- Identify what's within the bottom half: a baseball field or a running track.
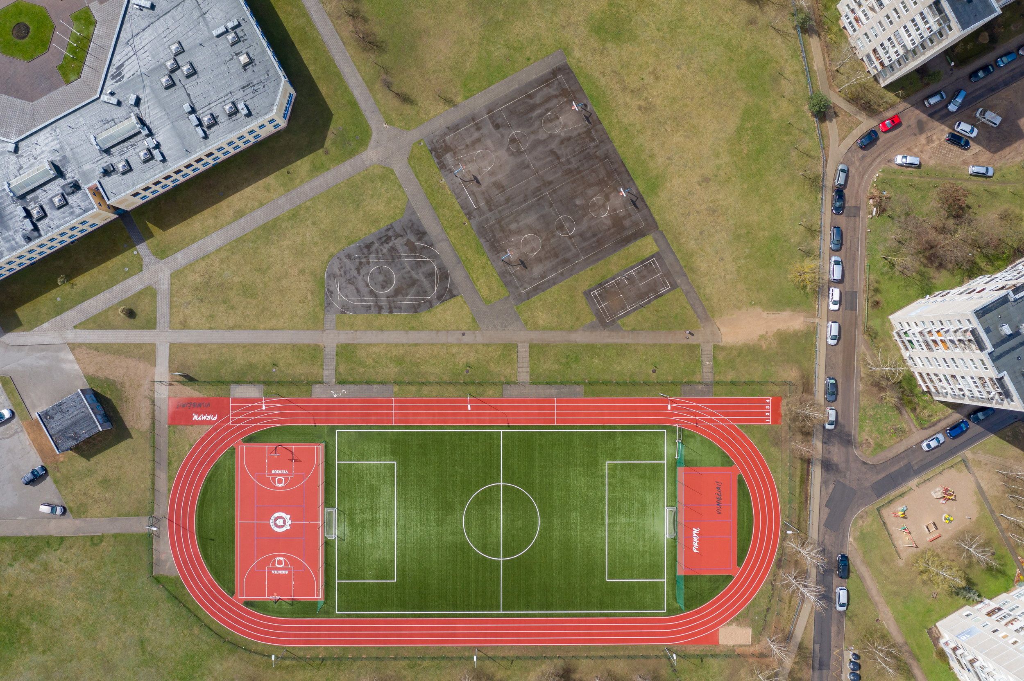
running track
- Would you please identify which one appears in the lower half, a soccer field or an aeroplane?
soccer field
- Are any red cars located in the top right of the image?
Yes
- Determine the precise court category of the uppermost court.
basketball court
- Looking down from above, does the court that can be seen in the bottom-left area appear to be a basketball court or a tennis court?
basketball court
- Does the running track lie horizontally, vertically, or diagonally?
horizontally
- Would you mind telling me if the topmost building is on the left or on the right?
right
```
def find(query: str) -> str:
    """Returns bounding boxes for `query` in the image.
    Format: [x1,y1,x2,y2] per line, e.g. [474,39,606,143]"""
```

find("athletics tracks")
[167,397,782,647]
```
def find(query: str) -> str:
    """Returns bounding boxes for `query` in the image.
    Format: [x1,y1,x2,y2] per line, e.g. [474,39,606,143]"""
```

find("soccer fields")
[195,425,753,619]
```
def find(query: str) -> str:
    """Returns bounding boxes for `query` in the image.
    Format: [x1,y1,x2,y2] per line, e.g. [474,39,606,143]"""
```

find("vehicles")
[969,164,996,176]
[836,161,850,187]
[36,504,64,517]
[838,555,851,579]
[857,129,880,148]
[895,152,923,166]
[971,407,996,424]
[923,88,950,107]
[831,257,843,280]
[921,433,948,453]
[0,407,16,423]
[977,106,1005,126]
[19,466,46,486]
[829,286,842,312]
[879,113,905,131]
[956,119,980,137]
[826,377,838,403]
[948,86,971,113]
[831,225,844,251]
[946,130,973,149]
[946,420,973,439]
[833,188,845,214]
[828,322,841,345]
[836,588,849,612]
[825,406,838,432]
[970,62,998,81]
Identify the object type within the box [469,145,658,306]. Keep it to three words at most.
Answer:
basketball court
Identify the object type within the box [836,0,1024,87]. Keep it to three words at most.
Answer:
building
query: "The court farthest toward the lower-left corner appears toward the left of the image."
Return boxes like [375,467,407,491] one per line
[232,441,324,605]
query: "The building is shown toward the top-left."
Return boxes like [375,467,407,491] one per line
[0,0,299,279]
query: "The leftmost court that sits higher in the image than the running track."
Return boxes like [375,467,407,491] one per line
[324,200,462,314]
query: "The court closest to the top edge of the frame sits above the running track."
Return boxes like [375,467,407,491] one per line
[423,60,613,222]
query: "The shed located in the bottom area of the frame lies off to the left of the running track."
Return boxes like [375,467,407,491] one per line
[35,388,114,455]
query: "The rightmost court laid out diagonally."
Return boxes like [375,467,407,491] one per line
[577,251,680,332]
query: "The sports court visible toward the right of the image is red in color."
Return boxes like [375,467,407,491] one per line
[677,465,741,578]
